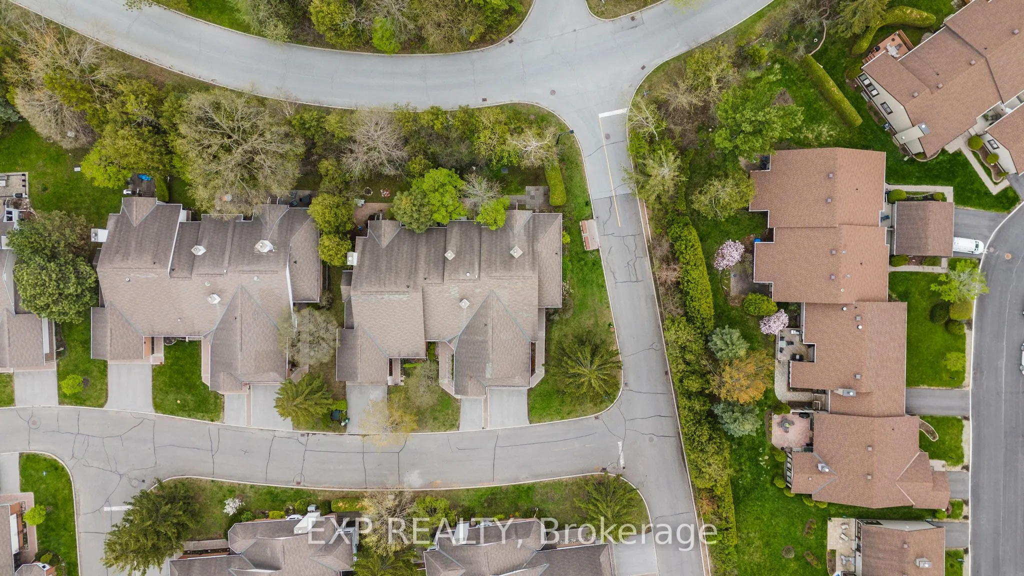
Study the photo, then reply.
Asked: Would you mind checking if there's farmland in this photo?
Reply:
No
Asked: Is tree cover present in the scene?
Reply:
Yes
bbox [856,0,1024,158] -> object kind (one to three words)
house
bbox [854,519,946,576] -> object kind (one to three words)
house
